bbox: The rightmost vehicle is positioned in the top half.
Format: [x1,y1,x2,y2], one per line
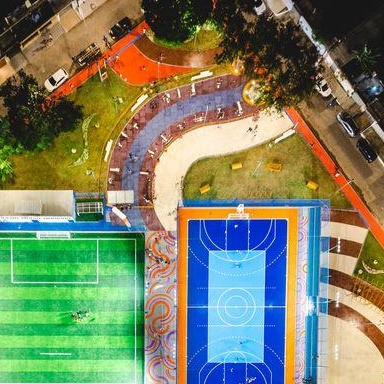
[354,136,378,163]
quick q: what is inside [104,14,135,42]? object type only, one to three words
car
